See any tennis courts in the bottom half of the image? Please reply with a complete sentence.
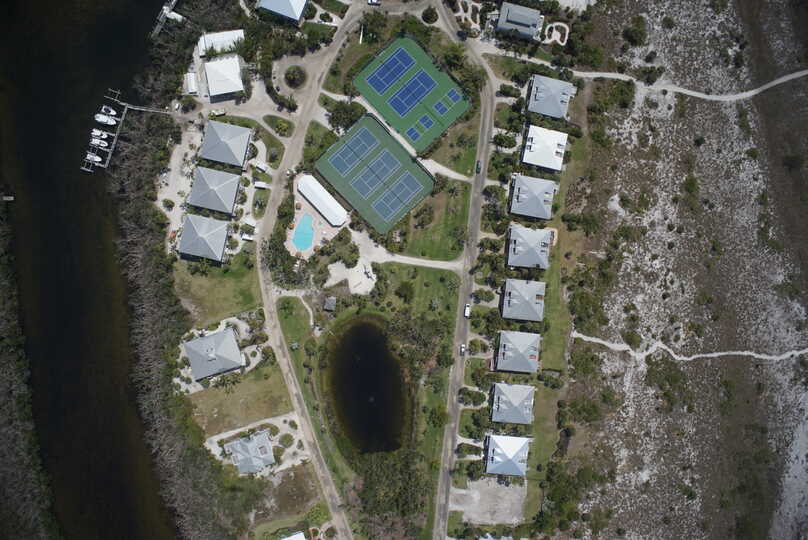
No, I see no tennis court in the bottom half of the image.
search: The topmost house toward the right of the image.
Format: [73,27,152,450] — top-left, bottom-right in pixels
[496,2,541,40]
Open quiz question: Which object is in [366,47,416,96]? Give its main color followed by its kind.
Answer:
blue tennis court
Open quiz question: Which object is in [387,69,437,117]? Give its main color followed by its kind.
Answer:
blue tennis court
